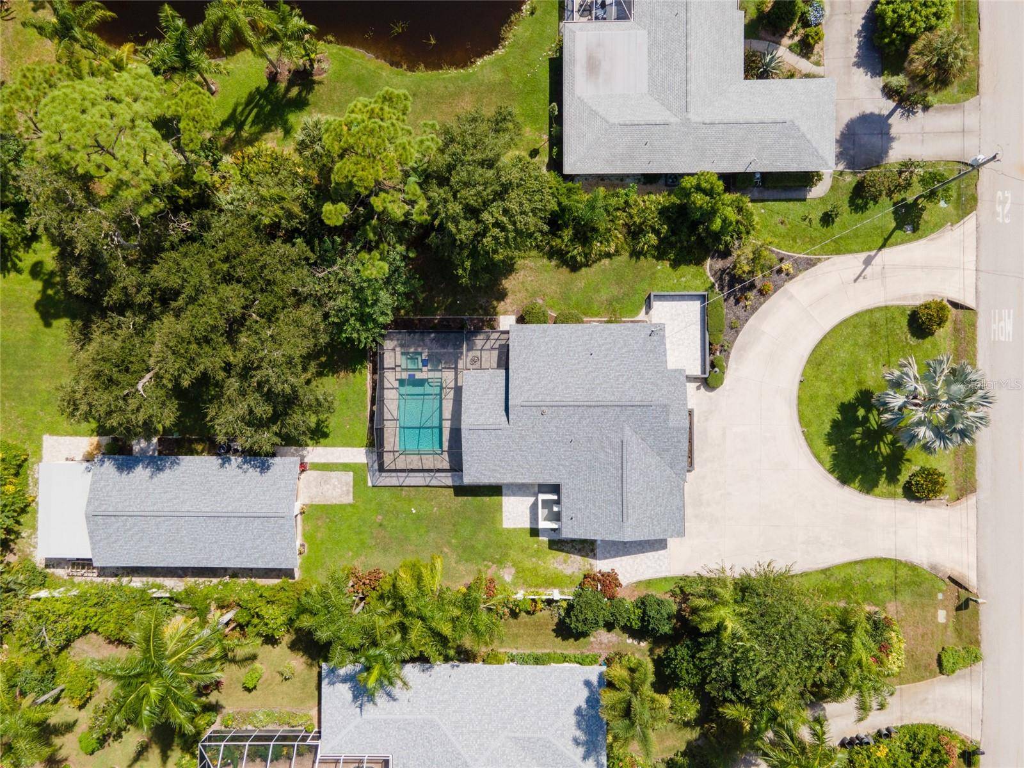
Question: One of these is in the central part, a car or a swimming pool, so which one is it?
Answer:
swimming pool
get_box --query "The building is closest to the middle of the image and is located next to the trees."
[461,324,690,541]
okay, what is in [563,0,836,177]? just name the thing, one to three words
house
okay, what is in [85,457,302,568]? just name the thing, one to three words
shed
